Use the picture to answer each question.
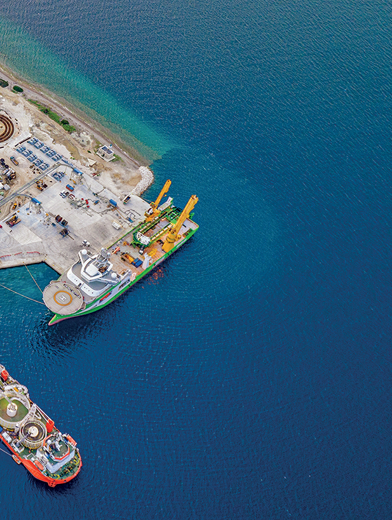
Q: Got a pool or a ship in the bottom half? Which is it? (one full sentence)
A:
There is a ship in the bottom half.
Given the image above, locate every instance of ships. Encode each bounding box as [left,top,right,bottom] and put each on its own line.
[43,181,200,324]
[0,366,85,482]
